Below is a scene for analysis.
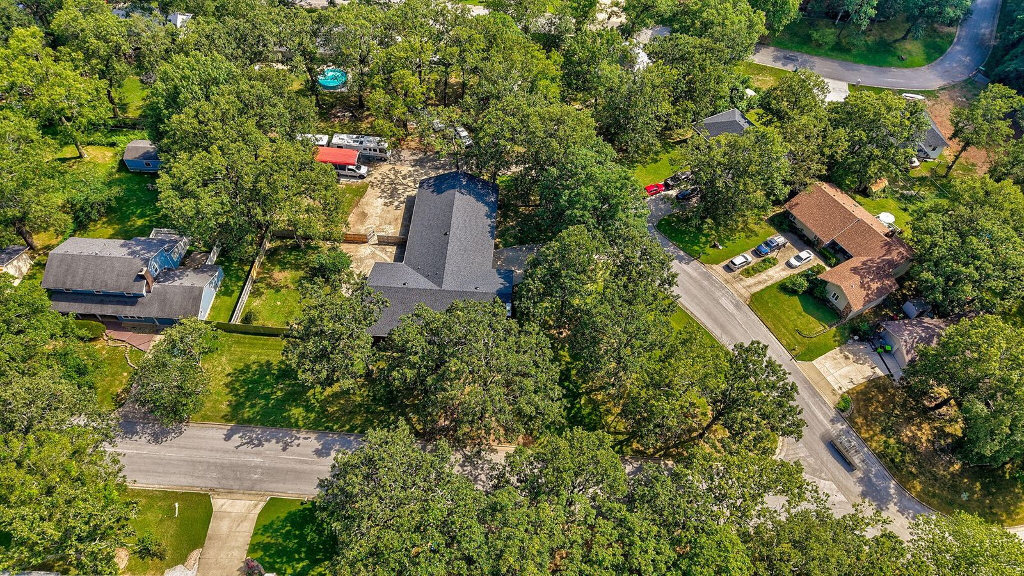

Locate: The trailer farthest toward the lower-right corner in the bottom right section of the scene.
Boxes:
[829,428,873,472]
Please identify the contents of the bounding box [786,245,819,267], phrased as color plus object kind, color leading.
white car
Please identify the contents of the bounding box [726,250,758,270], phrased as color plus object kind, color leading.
white car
